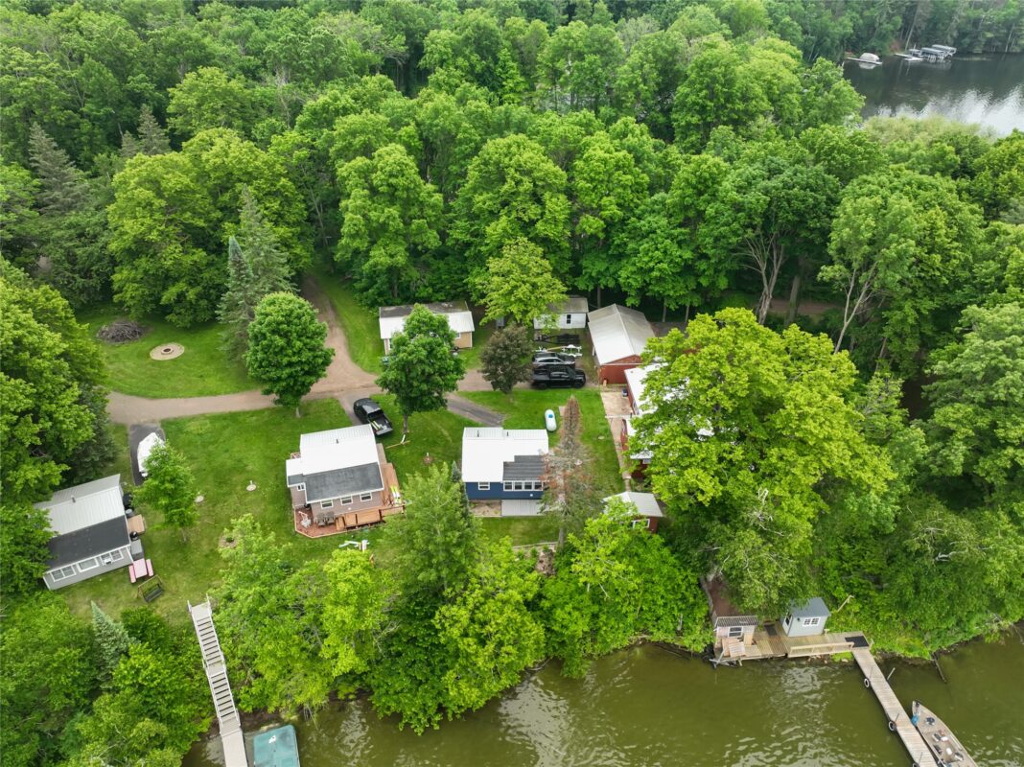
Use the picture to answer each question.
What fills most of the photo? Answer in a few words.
trees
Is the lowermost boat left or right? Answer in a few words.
right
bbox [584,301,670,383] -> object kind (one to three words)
building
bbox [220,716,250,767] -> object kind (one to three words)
pier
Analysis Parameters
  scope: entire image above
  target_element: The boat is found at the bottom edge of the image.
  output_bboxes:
[911,702,972,767]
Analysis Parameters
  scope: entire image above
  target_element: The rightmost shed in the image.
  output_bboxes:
[779,590,833,637]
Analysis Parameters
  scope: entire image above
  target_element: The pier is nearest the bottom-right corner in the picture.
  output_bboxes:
[852,647,938,767]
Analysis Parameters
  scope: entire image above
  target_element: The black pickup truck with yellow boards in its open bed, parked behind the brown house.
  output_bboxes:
[352,394,388,430]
